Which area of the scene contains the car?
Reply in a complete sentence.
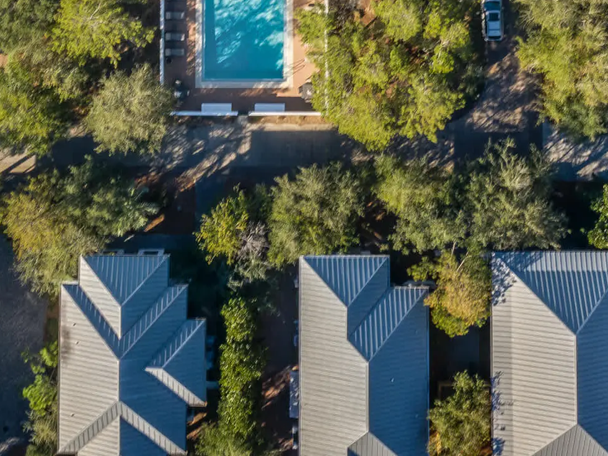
The car appears toward the top right of the photo.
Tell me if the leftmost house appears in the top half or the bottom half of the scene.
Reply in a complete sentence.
The leftmost house is in the bottom half of the image.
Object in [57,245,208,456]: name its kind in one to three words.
house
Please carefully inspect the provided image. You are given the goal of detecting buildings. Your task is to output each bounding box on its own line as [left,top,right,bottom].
[297,253,435,456]
[489,251,608,456]
[57,245,208,456]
